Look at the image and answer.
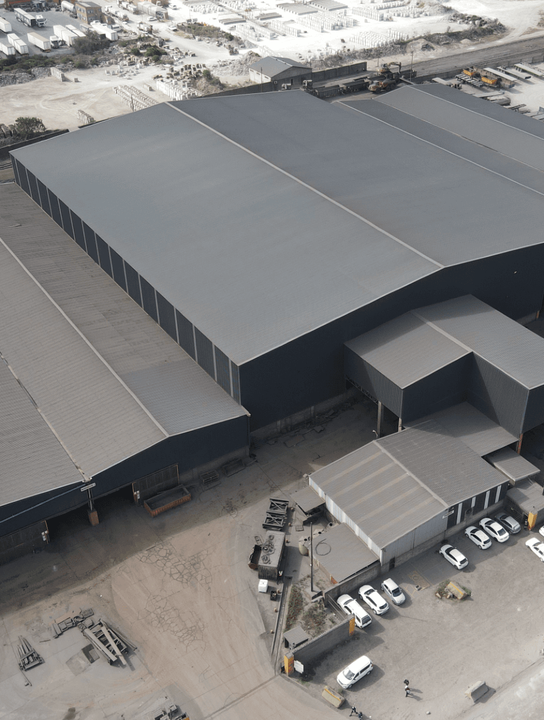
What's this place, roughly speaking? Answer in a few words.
industrial area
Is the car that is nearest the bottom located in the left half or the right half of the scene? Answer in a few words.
right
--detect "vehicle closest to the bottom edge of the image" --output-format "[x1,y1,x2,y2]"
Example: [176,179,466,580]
[334,654,376,693]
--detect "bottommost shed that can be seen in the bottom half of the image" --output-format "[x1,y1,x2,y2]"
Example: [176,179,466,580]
[284,627,308,652]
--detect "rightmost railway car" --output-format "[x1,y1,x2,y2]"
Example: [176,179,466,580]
[397,68,420,82]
